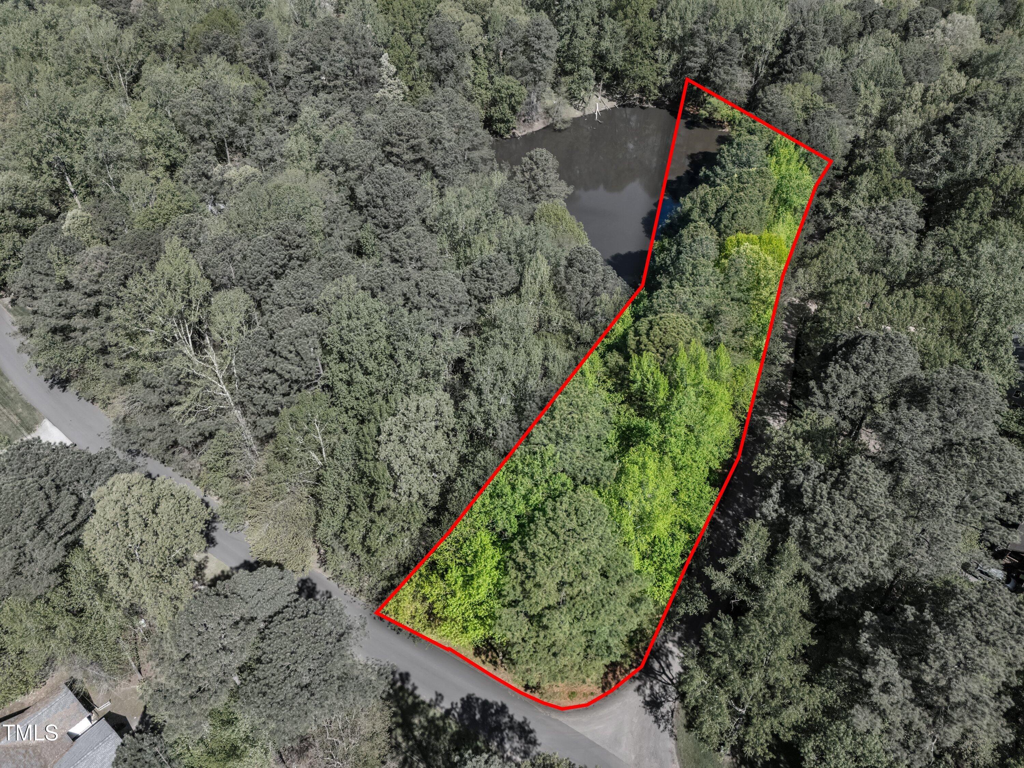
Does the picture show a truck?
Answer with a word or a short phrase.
No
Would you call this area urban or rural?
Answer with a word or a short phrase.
rural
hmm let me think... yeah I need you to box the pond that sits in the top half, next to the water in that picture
[490,107,731,307]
